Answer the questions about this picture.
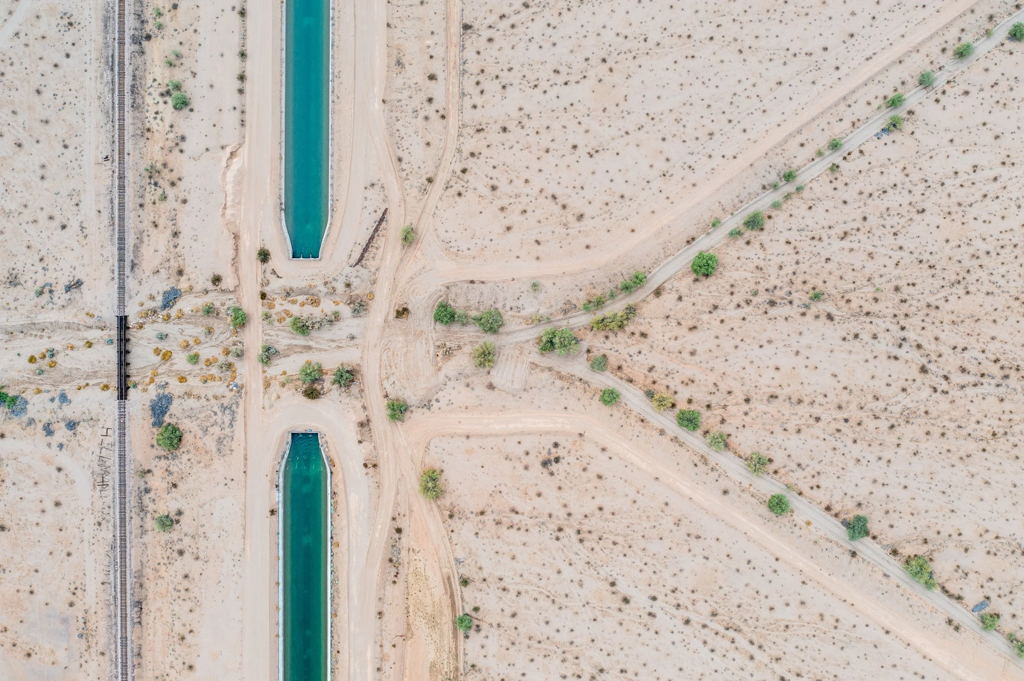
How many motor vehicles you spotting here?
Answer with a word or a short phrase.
0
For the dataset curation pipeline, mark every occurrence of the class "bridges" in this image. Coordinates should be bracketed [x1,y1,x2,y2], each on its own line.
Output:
[113,315,130,401]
